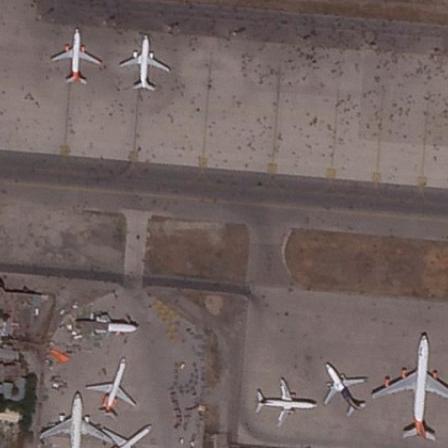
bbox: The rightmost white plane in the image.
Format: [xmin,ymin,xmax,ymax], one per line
[373,333,448,439]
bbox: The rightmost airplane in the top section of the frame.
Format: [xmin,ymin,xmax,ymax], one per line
[120,36,169,90]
